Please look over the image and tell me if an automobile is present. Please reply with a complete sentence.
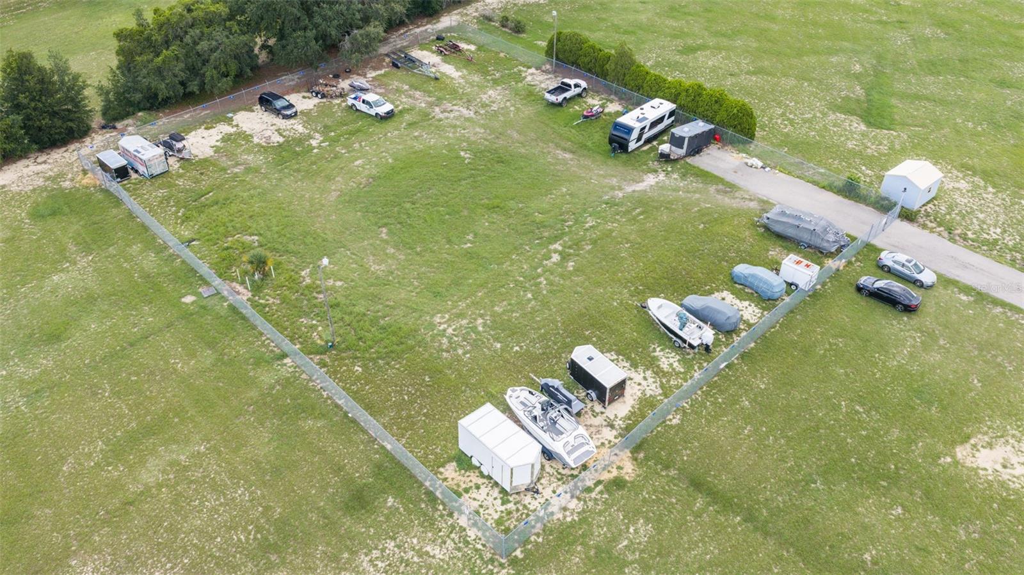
Yes, an automobile can be made out from above.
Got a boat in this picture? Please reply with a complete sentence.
Yes, a boat is visible in the scene.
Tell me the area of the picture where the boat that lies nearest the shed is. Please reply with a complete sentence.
The boat that lies nearest the shed appears toward the right of the photo.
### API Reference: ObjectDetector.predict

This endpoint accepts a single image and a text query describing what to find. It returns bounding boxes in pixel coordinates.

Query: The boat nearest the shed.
[760,207,848,258]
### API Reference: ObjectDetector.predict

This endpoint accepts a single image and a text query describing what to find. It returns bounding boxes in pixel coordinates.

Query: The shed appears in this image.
[880,160,944,208]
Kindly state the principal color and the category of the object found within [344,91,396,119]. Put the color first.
white truck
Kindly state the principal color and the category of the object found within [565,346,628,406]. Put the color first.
white trailer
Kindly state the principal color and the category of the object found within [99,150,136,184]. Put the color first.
white trailer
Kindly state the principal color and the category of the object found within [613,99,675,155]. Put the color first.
white camper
